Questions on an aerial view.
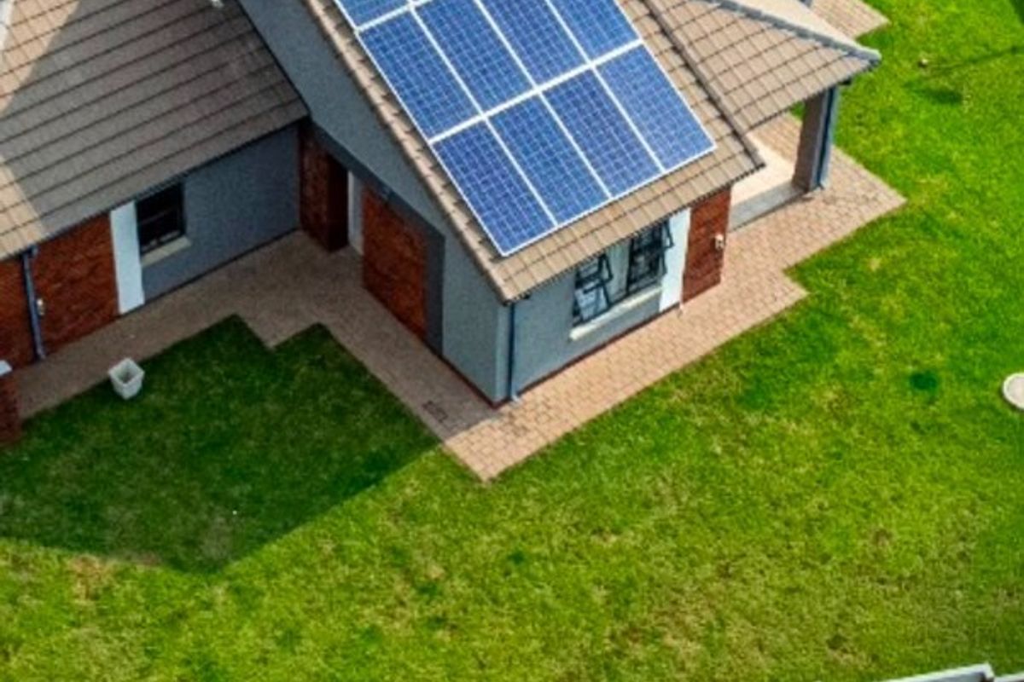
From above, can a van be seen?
No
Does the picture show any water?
No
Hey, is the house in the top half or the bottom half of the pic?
top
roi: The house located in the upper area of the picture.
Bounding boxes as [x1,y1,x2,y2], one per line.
[0,0,887,409]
